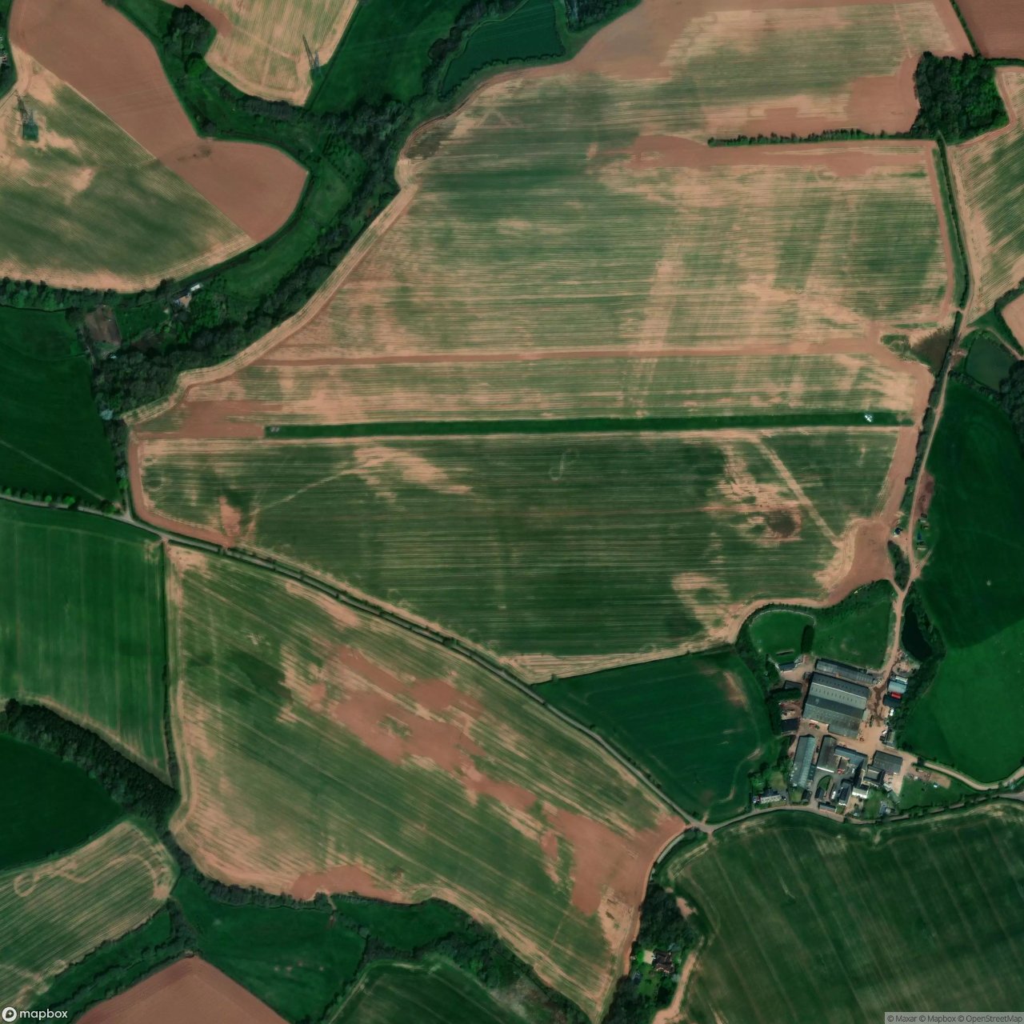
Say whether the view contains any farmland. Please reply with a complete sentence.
Yes, there is farmland in the image.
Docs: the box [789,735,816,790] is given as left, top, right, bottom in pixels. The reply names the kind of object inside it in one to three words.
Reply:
barn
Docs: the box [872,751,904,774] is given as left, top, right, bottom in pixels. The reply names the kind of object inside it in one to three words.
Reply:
building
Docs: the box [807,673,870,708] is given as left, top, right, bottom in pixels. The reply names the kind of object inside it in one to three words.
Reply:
barn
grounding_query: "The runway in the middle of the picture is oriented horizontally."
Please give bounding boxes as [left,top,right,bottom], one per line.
[265,413,911,438]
